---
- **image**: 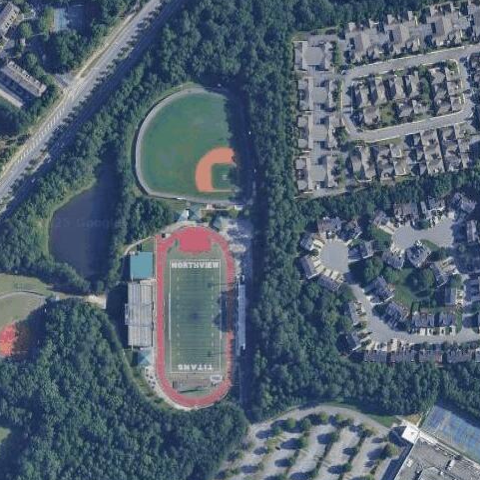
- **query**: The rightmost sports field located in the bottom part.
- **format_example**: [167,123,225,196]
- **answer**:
[164,240,226,401]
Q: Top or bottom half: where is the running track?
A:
bottom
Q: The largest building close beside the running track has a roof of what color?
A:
blue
